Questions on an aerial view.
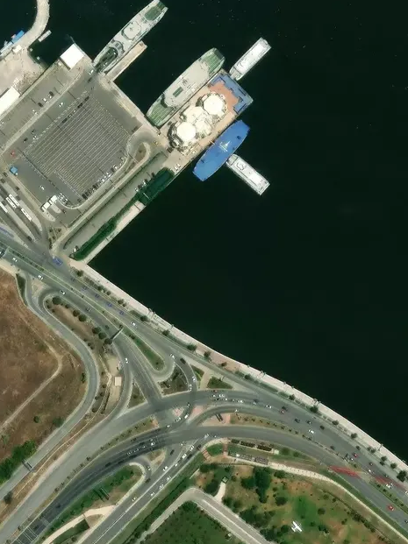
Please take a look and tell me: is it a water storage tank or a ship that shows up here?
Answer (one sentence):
Of the two, only a ship appears.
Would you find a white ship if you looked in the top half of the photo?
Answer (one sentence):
Yes, there is a white ship in the top half of the photo.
